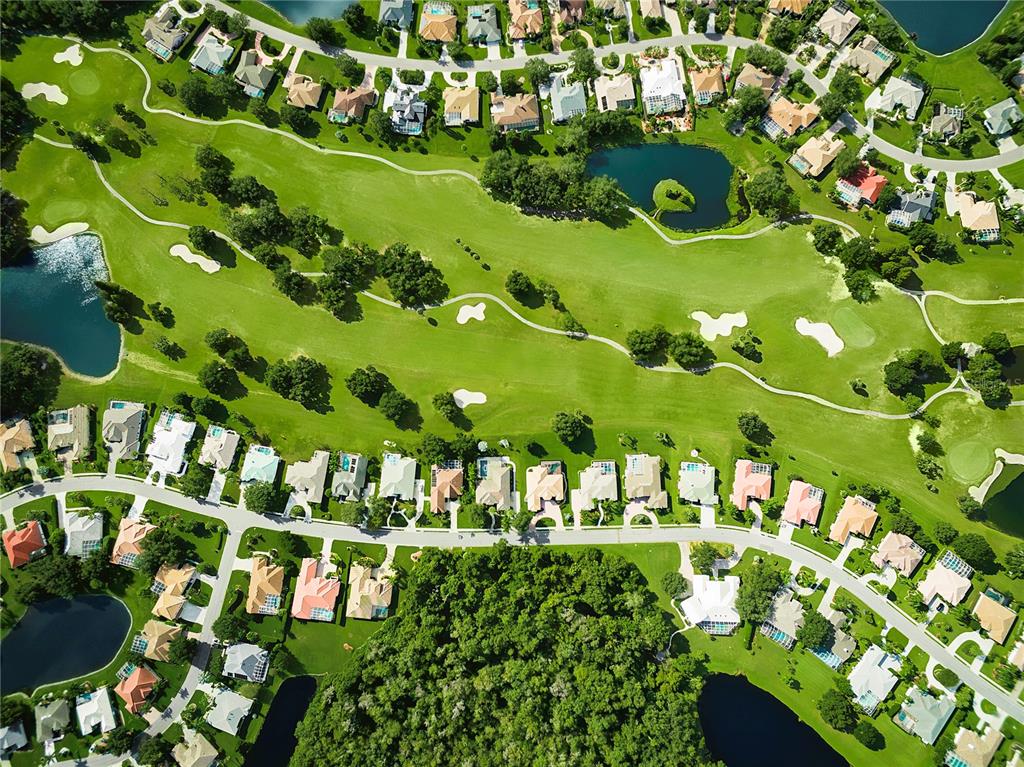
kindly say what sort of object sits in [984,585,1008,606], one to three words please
swimming pool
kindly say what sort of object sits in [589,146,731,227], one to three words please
pond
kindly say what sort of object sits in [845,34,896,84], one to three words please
house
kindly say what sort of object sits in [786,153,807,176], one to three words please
swimming pool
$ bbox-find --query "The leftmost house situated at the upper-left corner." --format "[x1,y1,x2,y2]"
[141,7,190,63]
